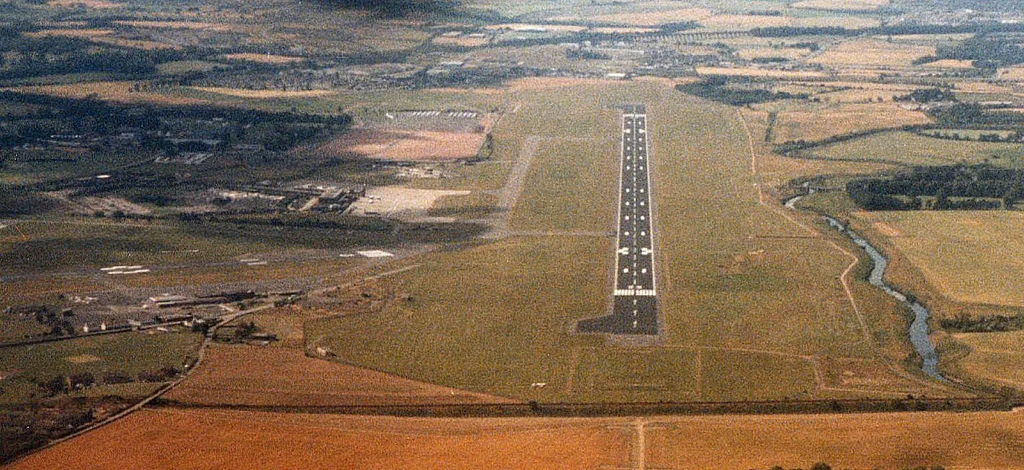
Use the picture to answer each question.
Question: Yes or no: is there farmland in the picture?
Yes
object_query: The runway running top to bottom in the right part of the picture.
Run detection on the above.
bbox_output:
[612,105,658,333]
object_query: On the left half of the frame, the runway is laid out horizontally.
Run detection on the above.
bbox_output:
[0,230,515,277]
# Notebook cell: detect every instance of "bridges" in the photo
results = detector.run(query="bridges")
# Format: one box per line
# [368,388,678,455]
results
[631,29,753,42]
